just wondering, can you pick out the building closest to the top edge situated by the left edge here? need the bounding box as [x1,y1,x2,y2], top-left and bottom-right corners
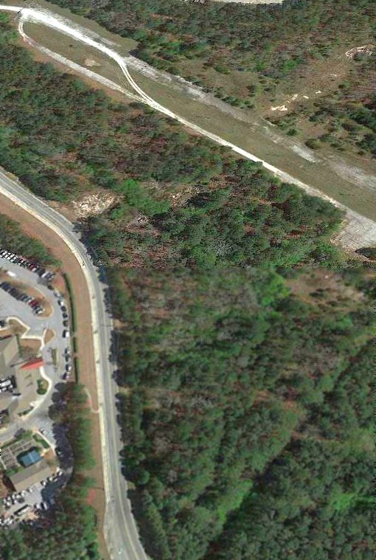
[0,334,43,418]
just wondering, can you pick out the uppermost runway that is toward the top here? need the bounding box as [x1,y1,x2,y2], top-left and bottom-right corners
[130,55,321,162]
